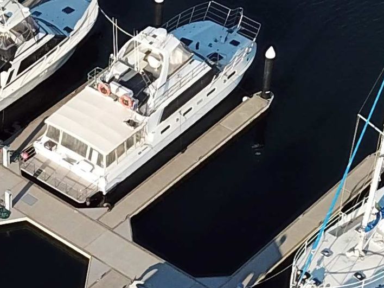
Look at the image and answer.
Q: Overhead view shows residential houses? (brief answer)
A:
No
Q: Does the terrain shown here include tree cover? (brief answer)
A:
No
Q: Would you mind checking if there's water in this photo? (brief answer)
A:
Yes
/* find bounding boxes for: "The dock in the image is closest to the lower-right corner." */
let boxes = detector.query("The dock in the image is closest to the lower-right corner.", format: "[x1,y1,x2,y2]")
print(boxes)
[192,148,384,288]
